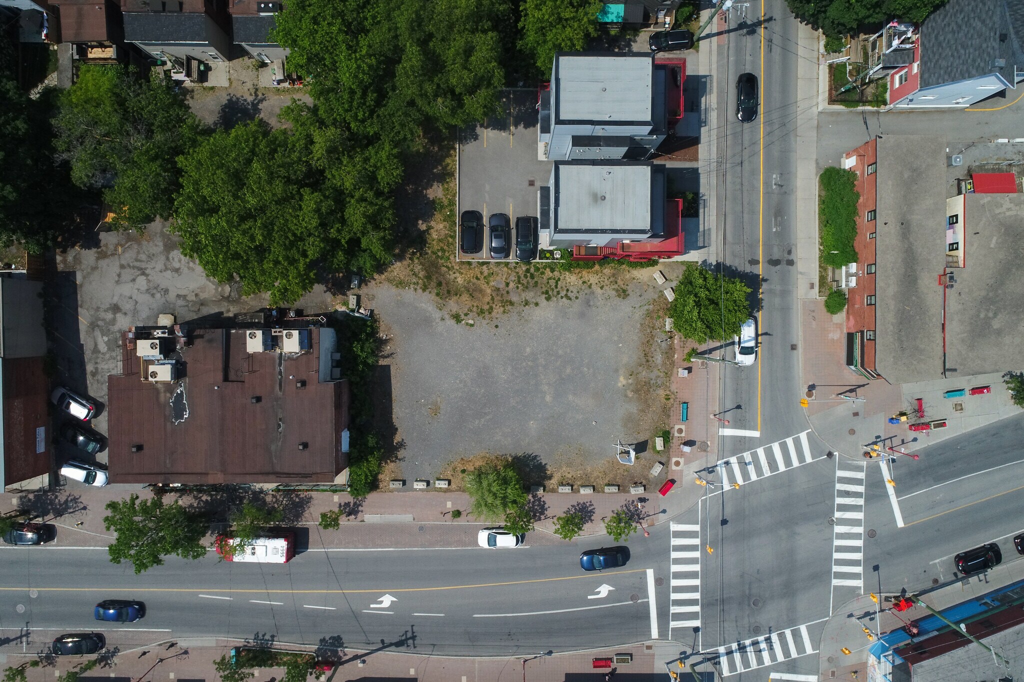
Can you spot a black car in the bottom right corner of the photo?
Yes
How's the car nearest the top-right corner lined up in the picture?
from top to bottom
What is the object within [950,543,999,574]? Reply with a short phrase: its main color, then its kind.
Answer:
black car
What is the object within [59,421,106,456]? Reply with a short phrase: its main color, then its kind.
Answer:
black car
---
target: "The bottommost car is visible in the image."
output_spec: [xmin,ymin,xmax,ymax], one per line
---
[52,631,106,658]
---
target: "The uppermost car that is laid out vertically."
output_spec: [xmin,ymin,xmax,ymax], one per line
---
[735,72,760,124]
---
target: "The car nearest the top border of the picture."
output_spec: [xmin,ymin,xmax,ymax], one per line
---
[647,28,695,54]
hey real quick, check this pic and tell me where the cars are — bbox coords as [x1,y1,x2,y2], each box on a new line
[59,458,106,487]
[52,631,106,658]
[579,546,628,572]
[59,421,106,456]
[487,213,510,259]
[735,72,760,124]
[459,210,482,256]
[478,527,522,551]
[647,28,695,54]
[6,522,57,546]
[733,317,758,367]
[95,599,145,624]
[52,386,100,423]
[514,214,538,261]
[950,543,999,574]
